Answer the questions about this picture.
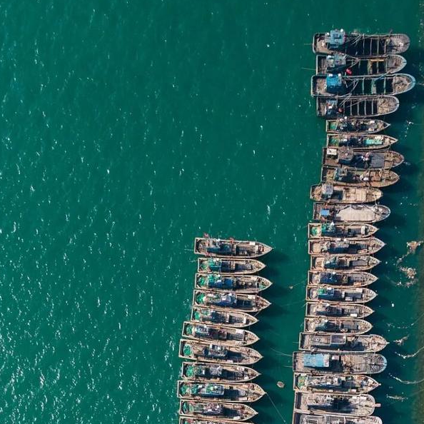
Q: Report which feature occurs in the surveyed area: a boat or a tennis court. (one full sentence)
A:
The image shows a boat.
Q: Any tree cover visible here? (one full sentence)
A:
No, there is no tree cover in the image.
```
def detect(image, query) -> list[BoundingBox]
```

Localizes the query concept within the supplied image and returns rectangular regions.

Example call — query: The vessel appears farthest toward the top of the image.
[312,30,409,58]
